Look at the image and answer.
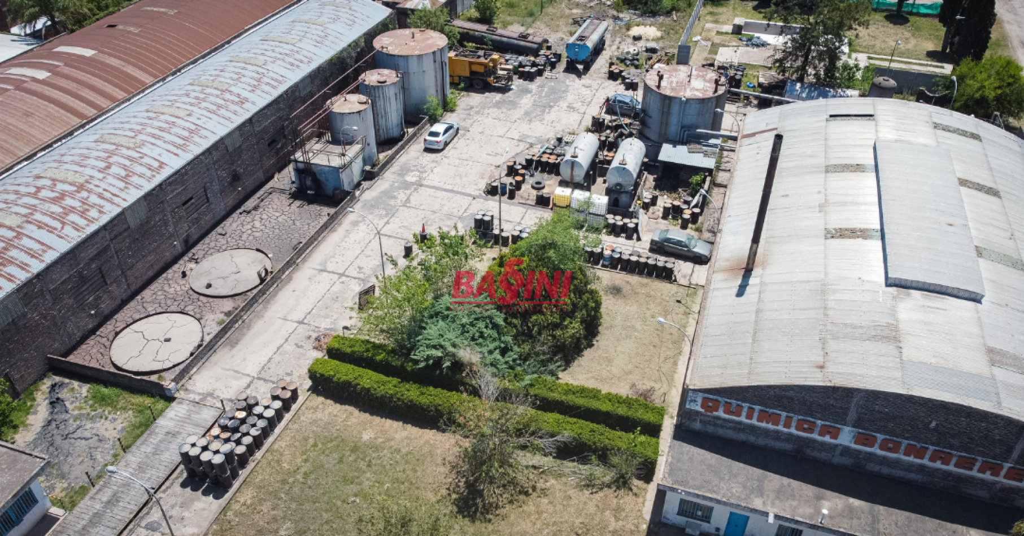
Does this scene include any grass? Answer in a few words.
Yes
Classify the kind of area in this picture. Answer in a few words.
industrial area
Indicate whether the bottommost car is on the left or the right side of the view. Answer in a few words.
right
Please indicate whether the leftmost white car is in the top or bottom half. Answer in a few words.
top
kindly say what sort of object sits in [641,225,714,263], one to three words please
car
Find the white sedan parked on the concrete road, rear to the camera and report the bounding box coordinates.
[423,118,464,147]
